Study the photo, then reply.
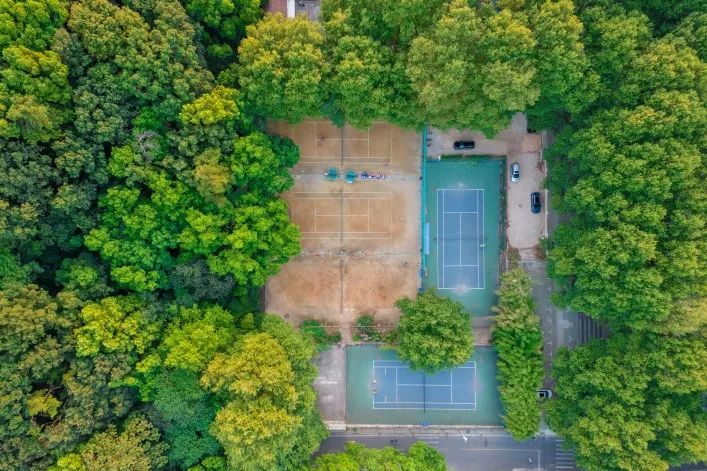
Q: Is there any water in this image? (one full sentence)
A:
No, no water is visible.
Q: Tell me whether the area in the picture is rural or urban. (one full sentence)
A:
The area is rural.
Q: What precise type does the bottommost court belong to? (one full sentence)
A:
In the photo, the bottommost court shows up as a tennis court.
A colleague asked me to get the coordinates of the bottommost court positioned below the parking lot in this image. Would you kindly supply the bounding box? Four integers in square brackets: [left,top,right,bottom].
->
[347,345,503,425]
